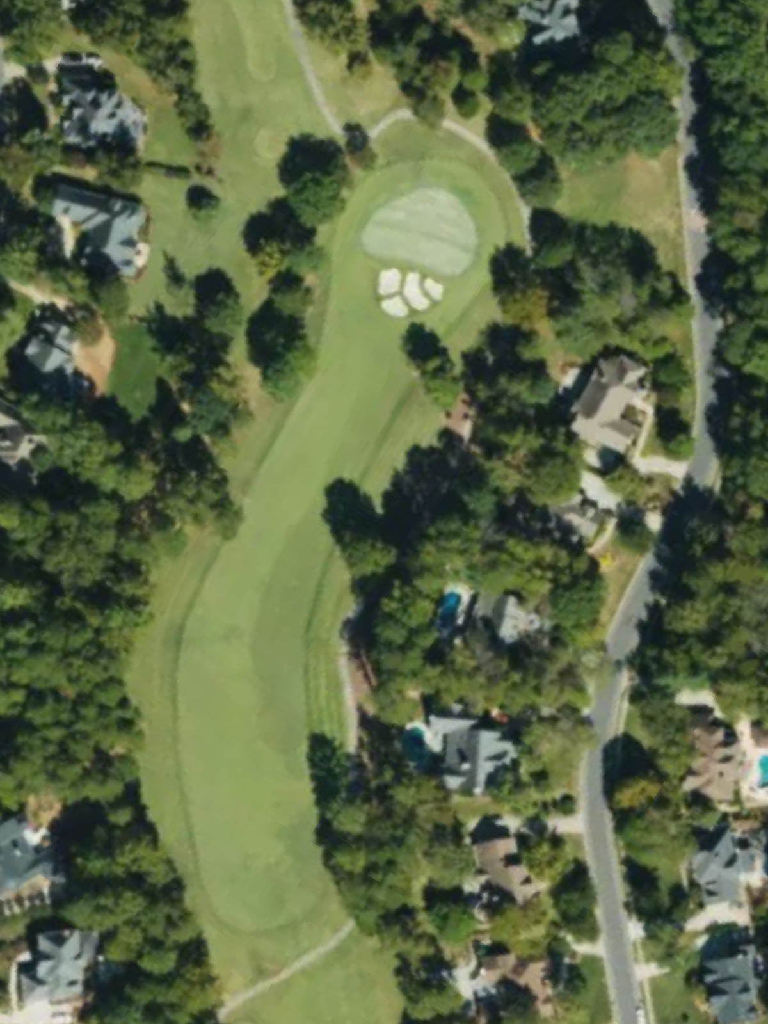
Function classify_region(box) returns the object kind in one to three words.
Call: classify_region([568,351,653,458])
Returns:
house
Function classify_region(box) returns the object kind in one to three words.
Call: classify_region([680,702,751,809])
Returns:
house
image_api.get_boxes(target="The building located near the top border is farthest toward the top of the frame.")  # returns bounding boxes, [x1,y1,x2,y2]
[518,0,582,47]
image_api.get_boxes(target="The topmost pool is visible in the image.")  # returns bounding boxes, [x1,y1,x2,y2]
[438,582,474,633]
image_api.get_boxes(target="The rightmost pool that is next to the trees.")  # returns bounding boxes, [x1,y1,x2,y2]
[734,715,768,810]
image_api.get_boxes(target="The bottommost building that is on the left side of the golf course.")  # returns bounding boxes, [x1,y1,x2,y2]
[17,930,96,1005]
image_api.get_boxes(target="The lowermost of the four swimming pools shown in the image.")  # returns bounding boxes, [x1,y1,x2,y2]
[472,937,488,959]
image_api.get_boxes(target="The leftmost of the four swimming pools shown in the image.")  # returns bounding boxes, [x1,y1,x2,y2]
[398,722,443,772]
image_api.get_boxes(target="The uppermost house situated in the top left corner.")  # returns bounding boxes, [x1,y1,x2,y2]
[57,74,145,148]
